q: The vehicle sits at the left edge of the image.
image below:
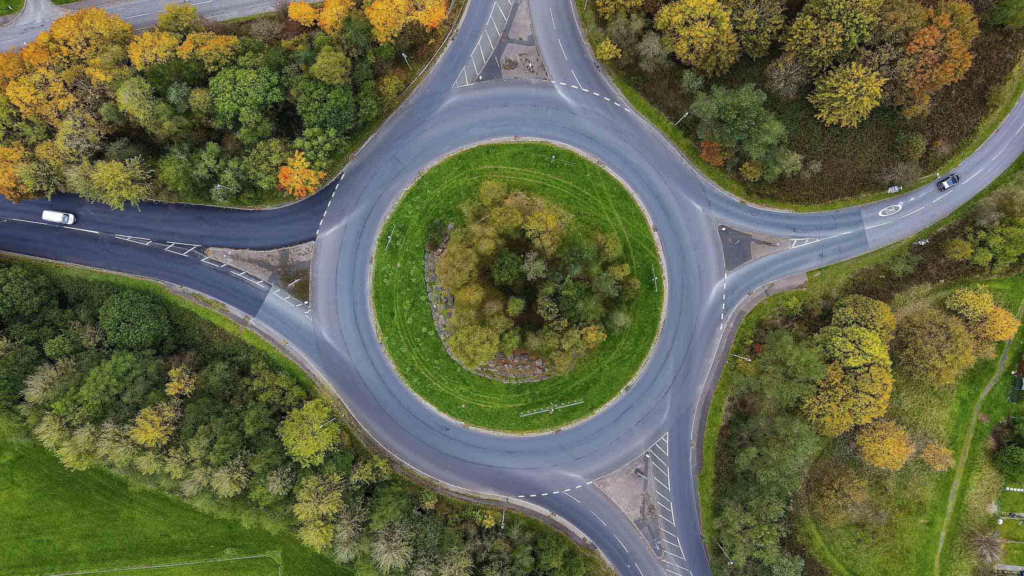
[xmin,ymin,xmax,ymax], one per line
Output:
[41,210,81,226]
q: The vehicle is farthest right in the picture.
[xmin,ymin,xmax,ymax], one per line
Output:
[934,173,960,193]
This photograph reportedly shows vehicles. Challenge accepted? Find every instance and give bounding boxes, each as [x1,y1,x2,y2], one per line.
[41,210,81,226]
[934,173,960,193]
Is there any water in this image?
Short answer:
No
